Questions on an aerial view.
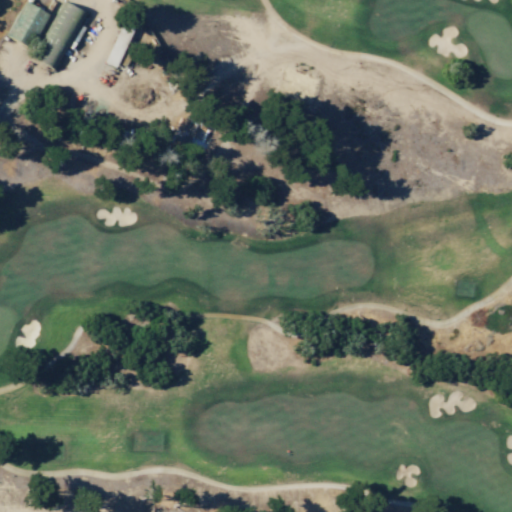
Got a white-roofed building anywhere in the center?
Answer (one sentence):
No, there's no white-roofed building to be seen in the center.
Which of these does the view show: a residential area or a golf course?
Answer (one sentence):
This looks like a golf course.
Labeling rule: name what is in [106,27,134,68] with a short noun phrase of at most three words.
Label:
building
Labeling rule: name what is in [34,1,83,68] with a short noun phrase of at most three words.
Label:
barn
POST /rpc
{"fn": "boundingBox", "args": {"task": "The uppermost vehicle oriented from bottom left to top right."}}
[71,26,87,48]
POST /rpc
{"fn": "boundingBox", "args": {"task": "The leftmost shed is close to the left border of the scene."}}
[10,2,49,45]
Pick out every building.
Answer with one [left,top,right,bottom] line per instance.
[106,27,134,68]
[10,2,49,45]
[34,1,83,68]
